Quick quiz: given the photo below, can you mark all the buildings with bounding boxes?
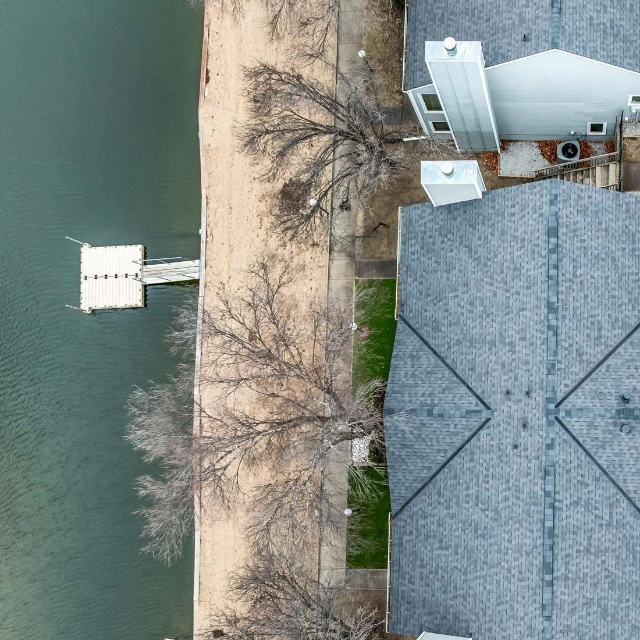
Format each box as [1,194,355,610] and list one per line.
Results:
[403,0,640,154]
[383,154,640,640]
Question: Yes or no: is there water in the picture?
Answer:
Yes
